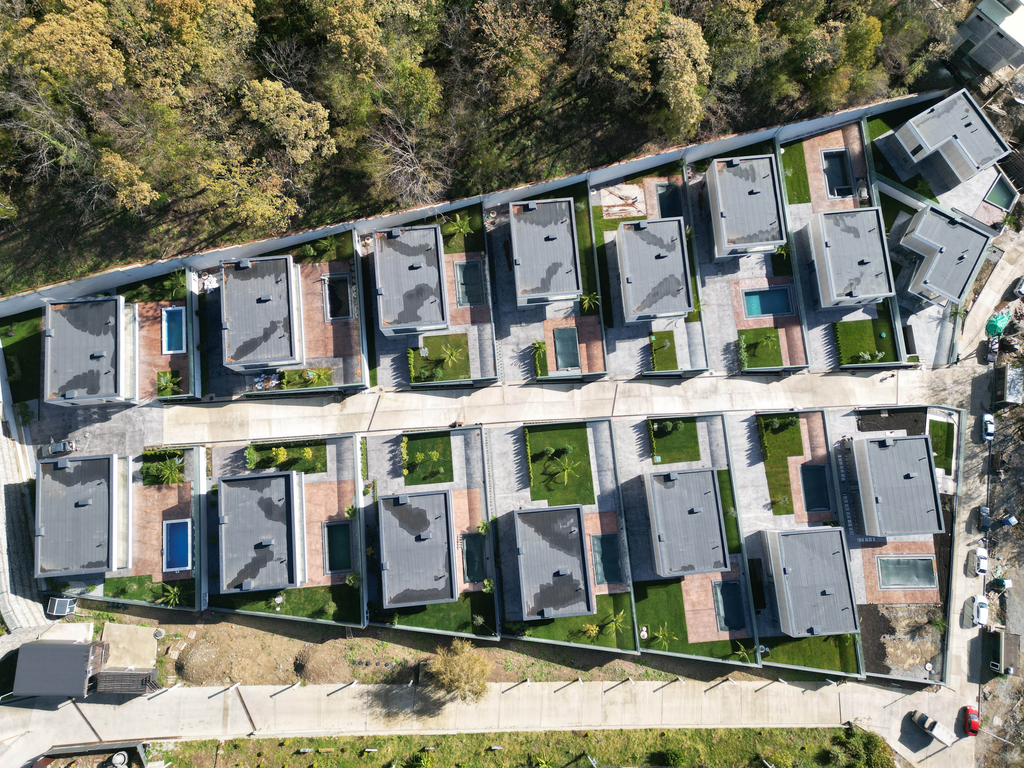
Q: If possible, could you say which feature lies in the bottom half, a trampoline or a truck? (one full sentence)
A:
Visible in the bottom half is a truck.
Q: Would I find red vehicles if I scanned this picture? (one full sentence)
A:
Yes, a red vehicle is visible in the scene.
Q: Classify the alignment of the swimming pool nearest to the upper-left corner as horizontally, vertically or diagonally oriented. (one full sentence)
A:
In this picture, the swimming pool nearest to the upper-left corner is oriented vertically.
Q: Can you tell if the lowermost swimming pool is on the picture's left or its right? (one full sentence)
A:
It is on the right.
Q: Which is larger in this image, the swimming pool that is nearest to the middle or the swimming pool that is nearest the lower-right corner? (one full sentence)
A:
Compared with the swimming pool that is nearest to the middle, the swimming pool that is nearest the lower-right corner is the bigger one.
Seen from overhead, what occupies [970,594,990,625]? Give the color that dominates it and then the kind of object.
white car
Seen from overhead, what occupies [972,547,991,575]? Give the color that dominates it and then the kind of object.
white car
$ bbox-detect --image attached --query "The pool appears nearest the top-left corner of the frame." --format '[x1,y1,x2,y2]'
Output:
[161,306,186,354]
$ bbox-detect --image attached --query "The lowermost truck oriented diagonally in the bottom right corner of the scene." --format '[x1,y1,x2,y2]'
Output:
[911,711,966,754]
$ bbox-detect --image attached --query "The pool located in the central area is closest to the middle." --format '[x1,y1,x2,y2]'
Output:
[554,327,581,368]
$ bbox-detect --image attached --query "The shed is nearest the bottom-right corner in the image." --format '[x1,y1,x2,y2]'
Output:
[992,629,1023,676]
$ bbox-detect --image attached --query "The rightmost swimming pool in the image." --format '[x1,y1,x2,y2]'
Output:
[984,173,1017,212]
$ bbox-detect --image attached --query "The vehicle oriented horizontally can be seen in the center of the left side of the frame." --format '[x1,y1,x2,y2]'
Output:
[43,441,78,457]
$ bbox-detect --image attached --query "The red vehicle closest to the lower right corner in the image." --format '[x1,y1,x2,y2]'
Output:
[962,704,981,737]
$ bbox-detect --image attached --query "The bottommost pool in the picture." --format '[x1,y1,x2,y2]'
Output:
[712,579,746,632]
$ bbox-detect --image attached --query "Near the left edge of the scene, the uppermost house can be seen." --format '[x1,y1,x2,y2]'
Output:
[43,295,140,407]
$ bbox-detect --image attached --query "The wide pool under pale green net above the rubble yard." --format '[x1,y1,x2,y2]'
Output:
[875,554,939,590]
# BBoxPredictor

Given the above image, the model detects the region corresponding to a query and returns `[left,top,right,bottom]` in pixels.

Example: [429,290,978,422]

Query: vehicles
[962,704,981,737]
[43,441,78,457]
[978,413,995,441]
[972,547,991,575]
[1008,271,1024,303]
[109,740,140,768]
[911,711,966,754]
[970,594,990,625]
[983,336,1000,366]
[975,505,993,532]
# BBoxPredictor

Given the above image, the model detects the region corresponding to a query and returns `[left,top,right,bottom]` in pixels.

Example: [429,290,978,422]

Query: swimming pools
[454,259,486,308]
[799,464,833,513]
[656,180,684,219]
[875,554,939,590]
[819,147,857,201]
[712,579,746,632]
[740,284,797,318]
[554,327,581,368]
[321,520,355,576]
[161,306,186,354]
[321,271,354,322]
[461,533,487,583]
[591,533,624,586]
[984,173,1017,212]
